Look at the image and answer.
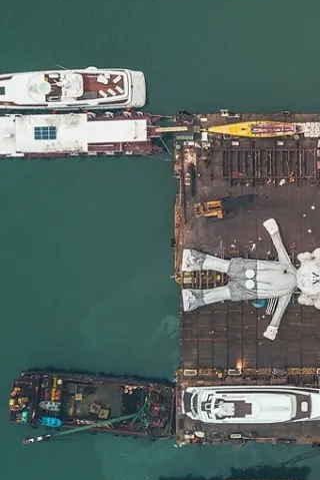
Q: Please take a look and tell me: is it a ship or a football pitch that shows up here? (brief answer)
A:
ship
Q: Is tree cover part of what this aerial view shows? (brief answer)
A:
No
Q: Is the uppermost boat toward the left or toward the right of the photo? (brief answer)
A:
left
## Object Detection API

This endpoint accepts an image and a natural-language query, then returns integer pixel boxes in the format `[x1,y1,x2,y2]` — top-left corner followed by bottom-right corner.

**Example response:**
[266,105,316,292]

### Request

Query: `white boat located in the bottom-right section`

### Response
[182,385,320,423]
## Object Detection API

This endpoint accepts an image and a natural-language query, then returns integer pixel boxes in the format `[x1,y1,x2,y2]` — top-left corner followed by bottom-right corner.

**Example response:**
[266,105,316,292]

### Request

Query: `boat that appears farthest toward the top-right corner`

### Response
[203,121,305,137]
